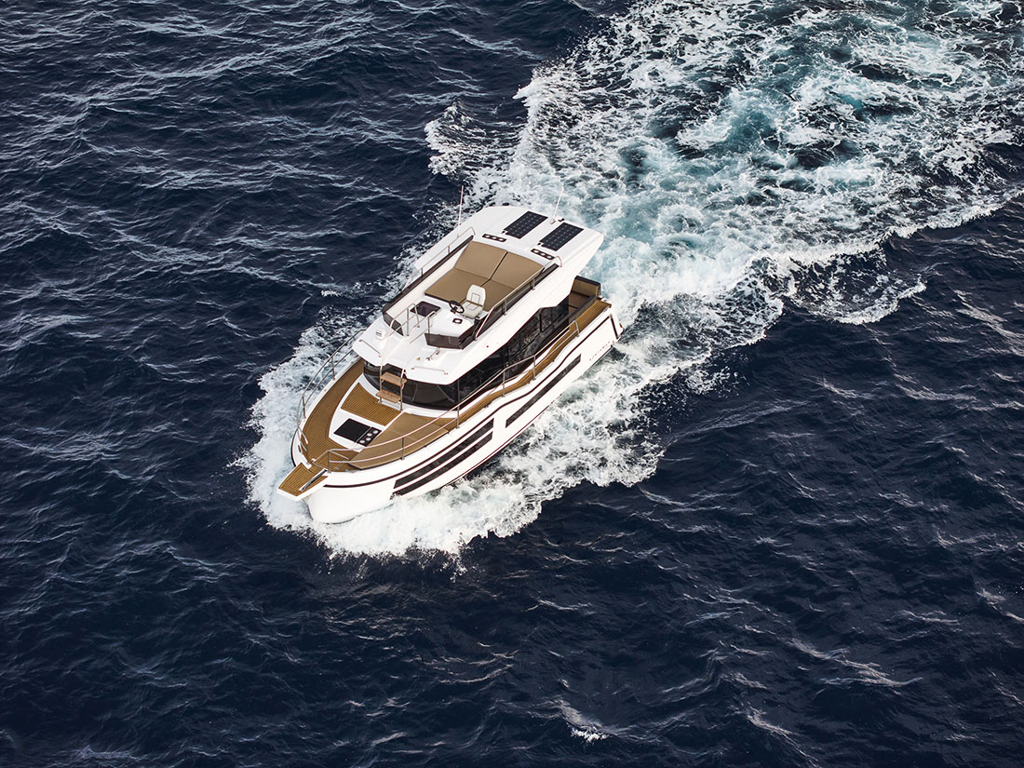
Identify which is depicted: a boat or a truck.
boat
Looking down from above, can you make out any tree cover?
No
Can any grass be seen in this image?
No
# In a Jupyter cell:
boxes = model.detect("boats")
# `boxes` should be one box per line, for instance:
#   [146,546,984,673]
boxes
[276,185,624,525]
